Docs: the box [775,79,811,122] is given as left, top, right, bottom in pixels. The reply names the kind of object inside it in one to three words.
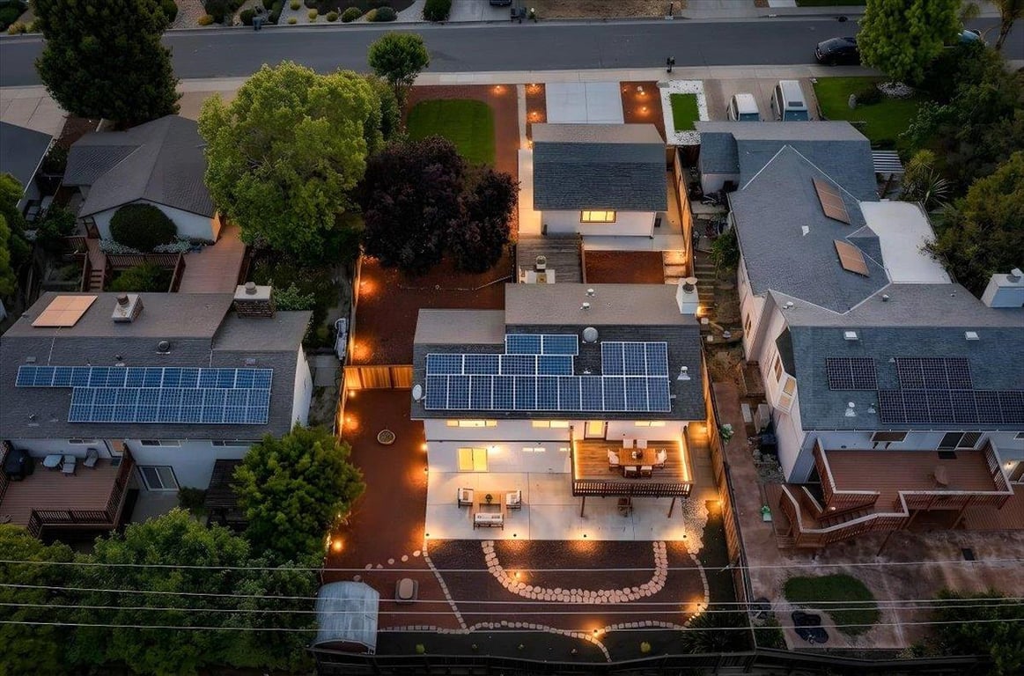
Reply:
van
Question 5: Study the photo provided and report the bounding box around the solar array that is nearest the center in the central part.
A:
[424,334,672,411]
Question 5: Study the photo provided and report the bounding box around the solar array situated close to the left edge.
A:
[15,365,272,423]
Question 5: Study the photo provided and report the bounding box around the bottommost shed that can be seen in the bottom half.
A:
[316,581,381,649]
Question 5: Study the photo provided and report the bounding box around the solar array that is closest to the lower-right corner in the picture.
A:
[827,357,1024,423]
